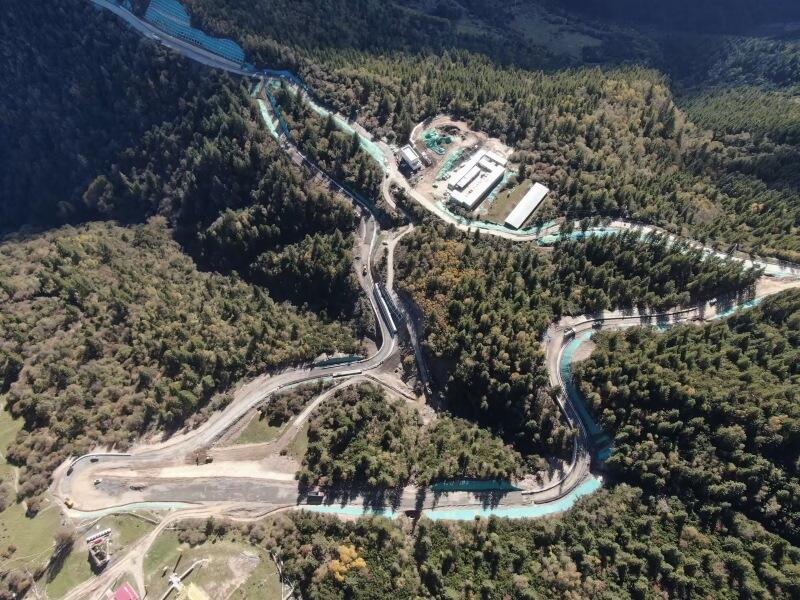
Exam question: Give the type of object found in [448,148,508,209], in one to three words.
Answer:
building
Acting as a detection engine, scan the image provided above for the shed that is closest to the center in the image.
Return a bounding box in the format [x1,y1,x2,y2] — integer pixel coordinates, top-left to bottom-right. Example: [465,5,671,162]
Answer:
[370,284,398,334]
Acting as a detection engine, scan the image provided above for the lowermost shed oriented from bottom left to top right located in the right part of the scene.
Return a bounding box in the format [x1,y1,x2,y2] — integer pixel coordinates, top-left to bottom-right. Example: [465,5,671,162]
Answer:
[503,182,548,231]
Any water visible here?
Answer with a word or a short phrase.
No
